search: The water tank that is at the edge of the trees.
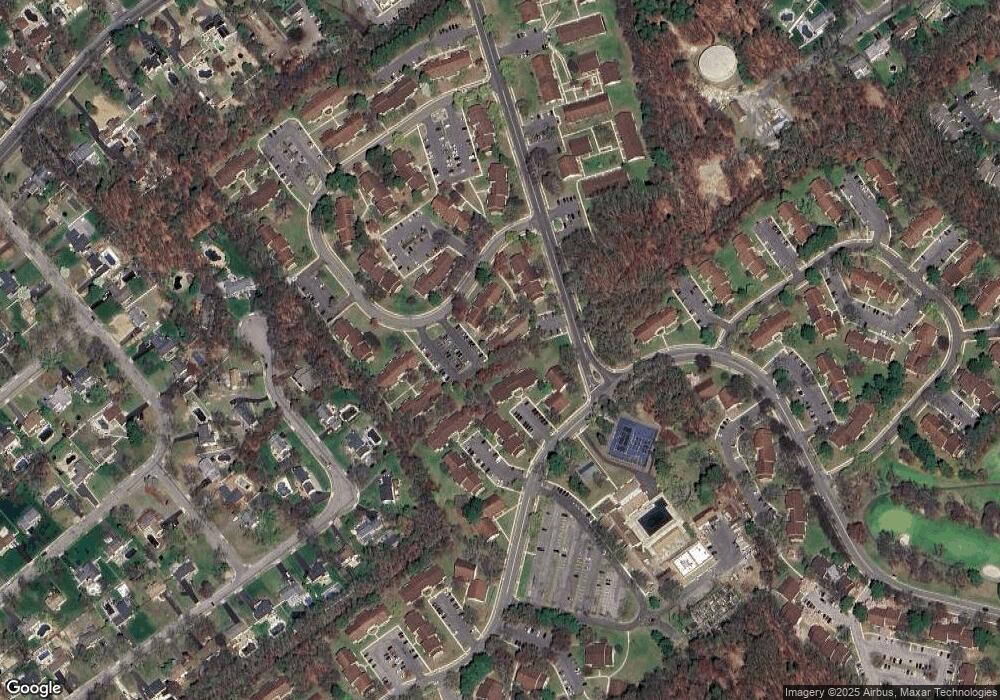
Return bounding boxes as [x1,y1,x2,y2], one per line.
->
[698,47,735,84]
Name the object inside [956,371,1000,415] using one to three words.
building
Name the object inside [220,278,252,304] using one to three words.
house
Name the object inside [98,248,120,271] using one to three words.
swimming pool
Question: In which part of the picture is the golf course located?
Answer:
bottom right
